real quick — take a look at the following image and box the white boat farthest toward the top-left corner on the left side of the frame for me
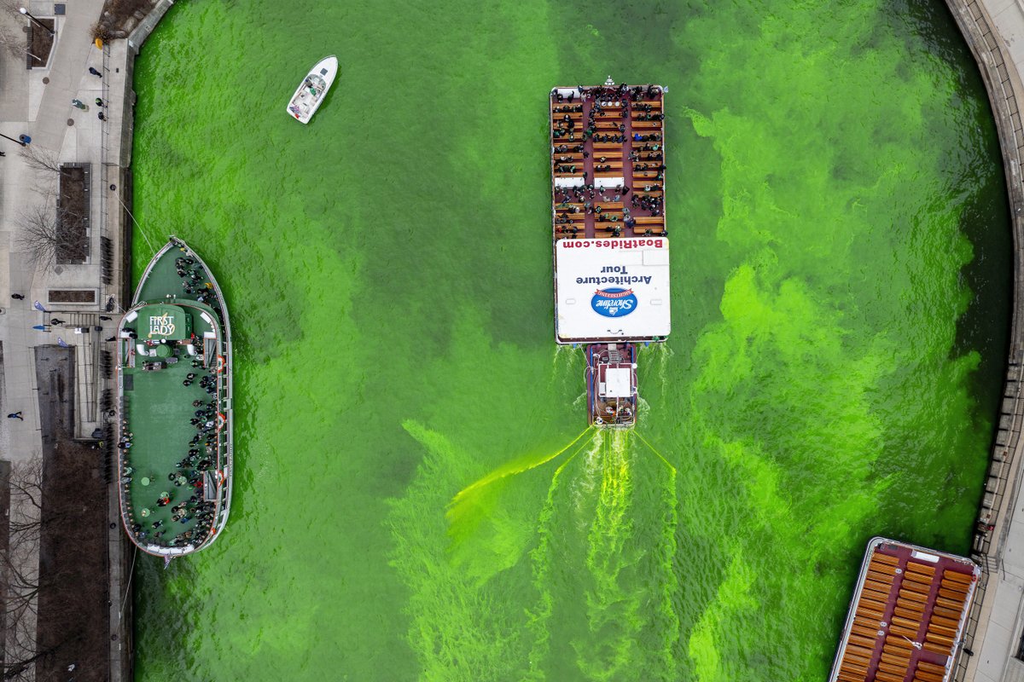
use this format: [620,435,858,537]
[287,55,339,126]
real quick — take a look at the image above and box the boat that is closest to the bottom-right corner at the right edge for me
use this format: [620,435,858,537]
[827,535,981,682]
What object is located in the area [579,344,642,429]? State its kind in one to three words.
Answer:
boat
